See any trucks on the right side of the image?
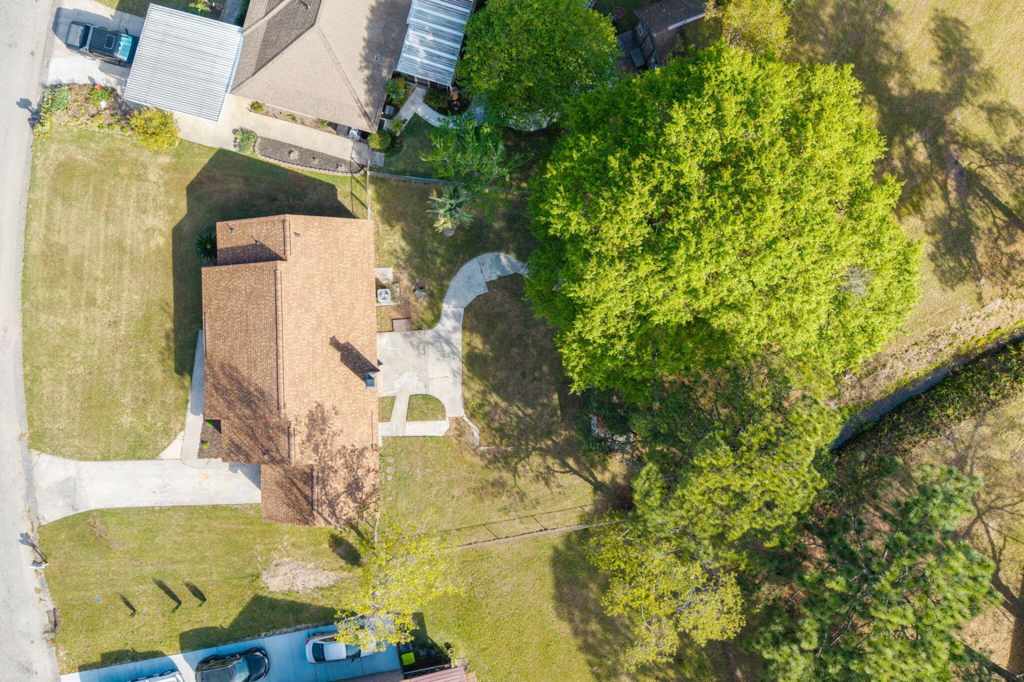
No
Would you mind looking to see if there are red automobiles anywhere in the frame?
No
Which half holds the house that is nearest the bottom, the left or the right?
left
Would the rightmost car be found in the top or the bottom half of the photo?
bottom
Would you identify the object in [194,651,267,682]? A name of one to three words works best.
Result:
car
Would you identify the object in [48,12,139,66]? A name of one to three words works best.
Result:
truck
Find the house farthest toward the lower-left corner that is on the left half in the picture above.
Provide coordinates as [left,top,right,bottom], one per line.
[200,216,388,531]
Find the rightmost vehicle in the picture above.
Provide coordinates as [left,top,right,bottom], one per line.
[302,628,375,665]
